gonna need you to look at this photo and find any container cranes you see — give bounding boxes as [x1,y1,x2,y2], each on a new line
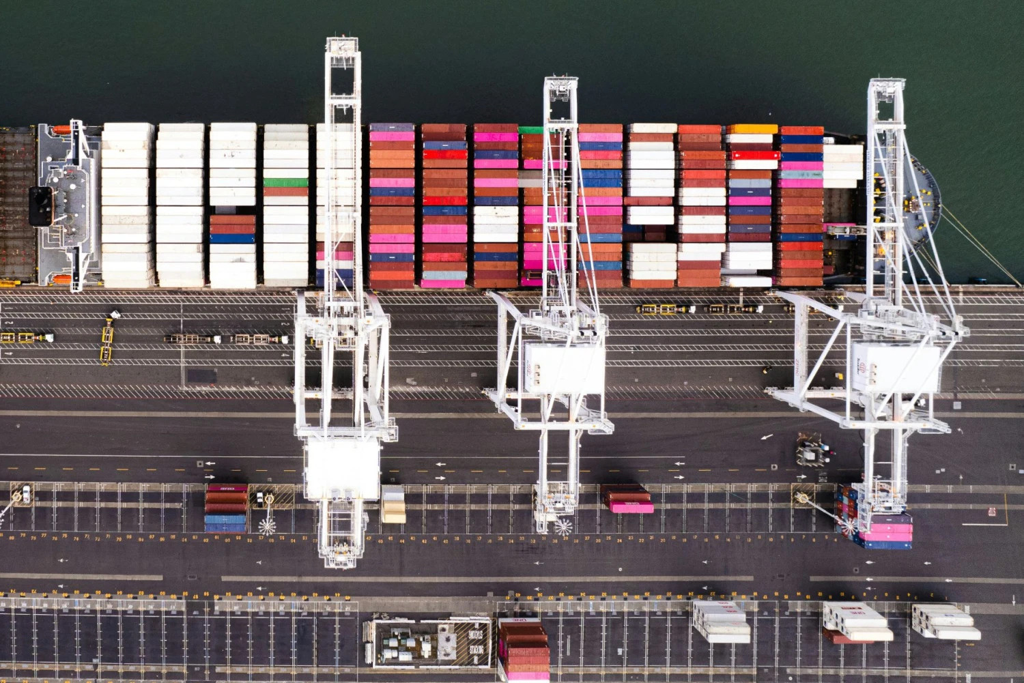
[766,76,970,536]
[480,76,624,536]
[287,36,410,565]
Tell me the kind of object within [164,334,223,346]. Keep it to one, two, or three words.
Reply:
vehicle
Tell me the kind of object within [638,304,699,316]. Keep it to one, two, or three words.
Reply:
vehicle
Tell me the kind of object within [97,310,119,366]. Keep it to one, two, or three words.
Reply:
truck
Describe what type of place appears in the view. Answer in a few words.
port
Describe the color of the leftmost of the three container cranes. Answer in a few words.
white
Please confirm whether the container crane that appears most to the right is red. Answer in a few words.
No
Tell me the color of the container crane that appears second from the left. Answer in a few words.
white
